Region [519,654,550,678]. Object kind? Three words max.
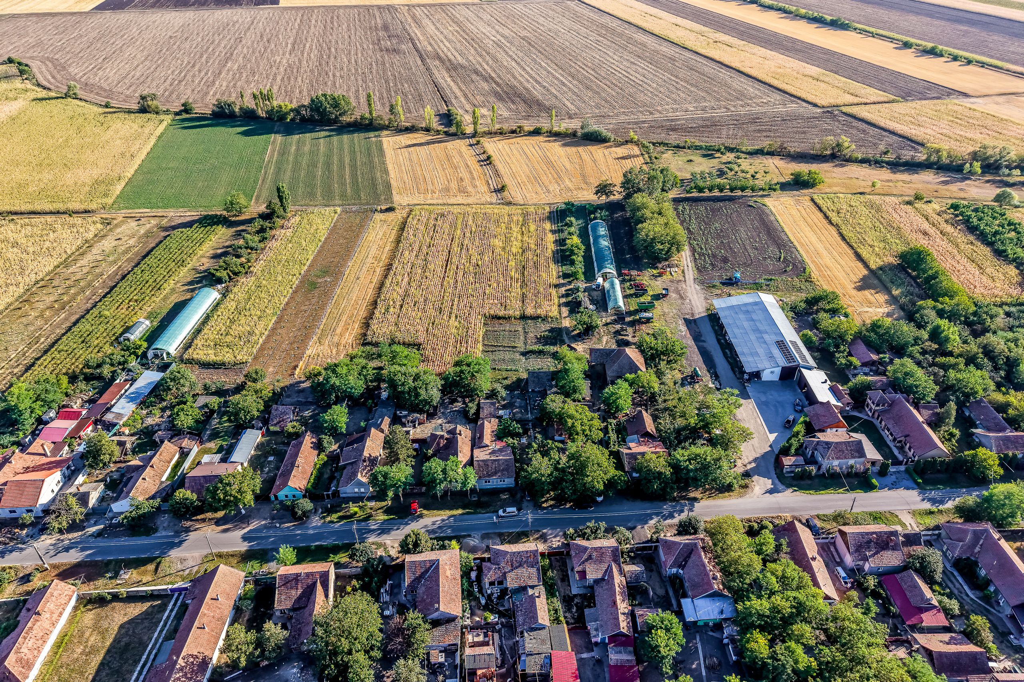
shed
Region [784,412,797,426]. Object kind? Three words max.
vehicle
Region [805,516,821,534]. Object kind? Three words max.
car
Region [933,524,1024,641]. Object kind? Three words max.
house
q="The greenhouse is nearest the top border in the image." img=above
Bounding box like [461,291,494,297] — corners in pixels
[589,217,617,278]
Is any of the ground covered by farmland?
Yes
